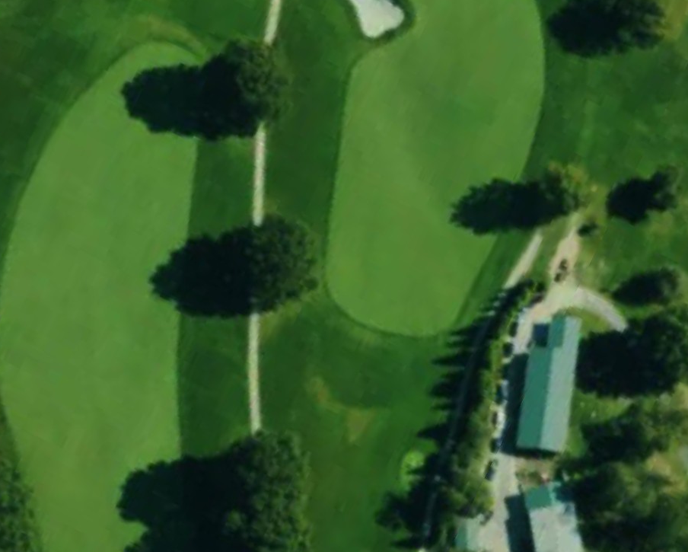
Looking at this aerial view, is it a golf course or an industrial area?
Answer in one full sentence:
The area seen from above is a golf course.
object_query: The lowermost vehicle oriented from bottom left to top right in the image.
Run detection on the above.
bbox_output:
[479,510,494,525]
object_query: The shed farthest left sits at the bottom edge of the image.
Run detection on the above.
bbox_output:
[453,520,482,552]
